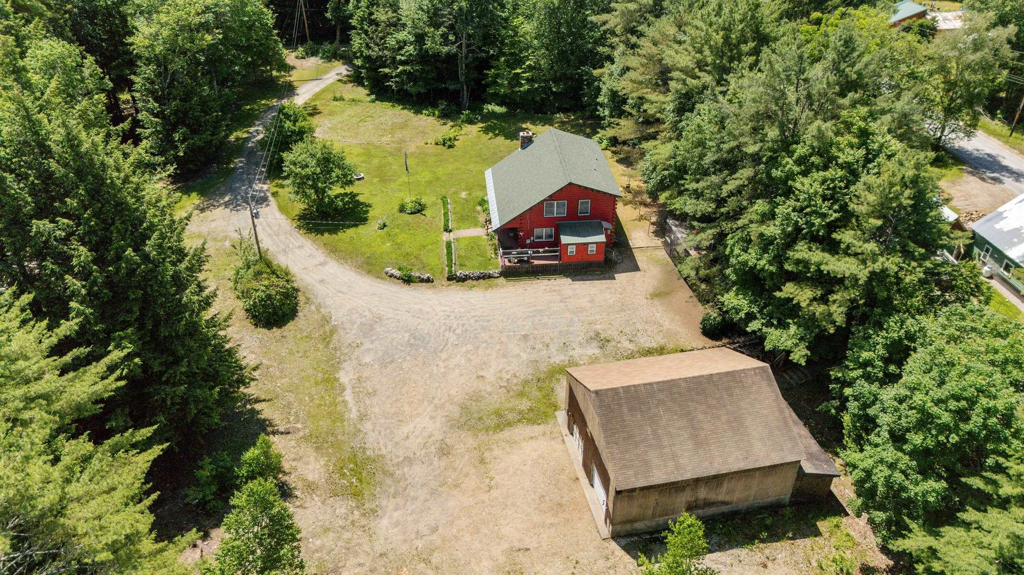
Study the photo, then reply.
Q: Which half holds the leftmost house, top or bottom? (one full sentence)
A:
You can find the leftmost house in the top half.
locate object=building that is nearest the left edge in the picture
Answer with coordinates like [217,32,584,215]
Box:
[484,128,621,274]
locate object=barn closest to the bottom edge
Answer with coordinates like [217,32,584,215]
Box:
[564,346,841,537]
